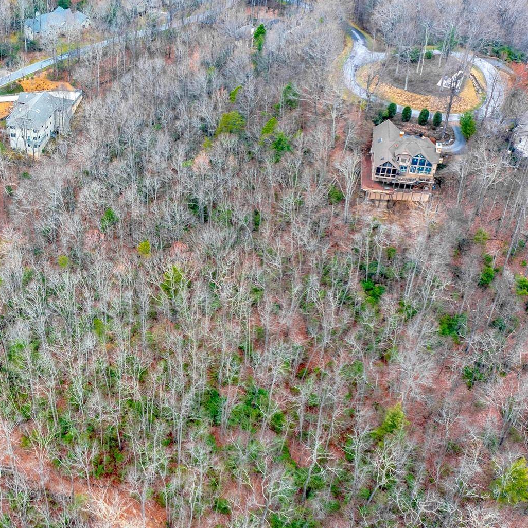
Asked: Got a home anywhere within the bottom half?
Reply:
No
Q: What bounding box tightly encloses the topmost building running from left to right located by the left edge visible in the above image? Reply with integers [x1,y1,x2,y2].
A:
[21,11,89,43]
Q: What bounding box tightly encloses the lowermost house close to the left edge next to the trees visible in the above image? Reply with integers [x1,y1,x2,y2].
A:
[4,87,85,156]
